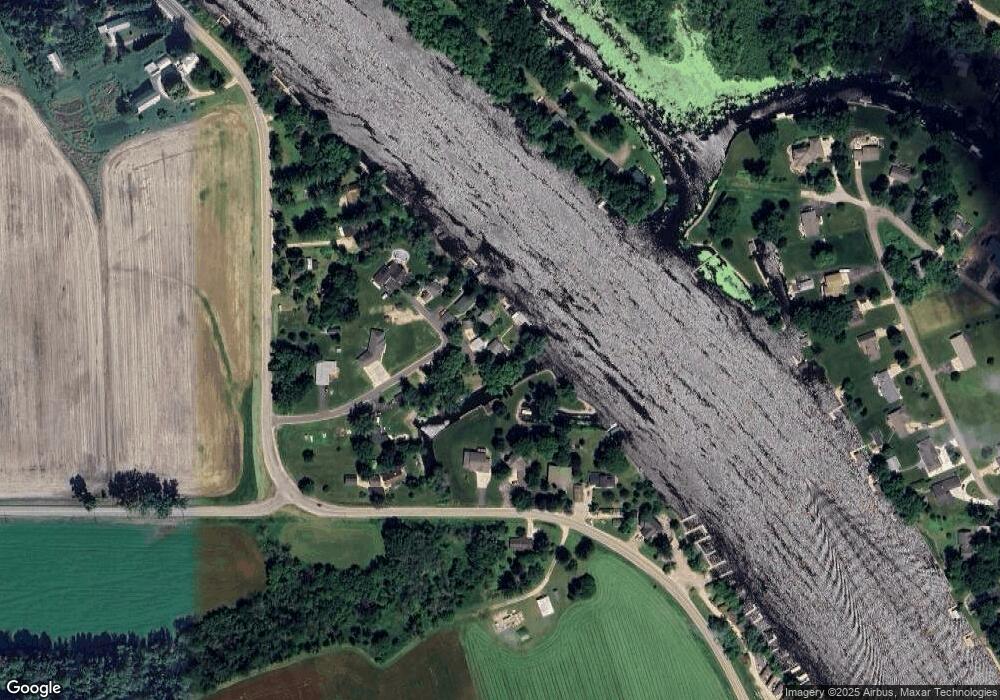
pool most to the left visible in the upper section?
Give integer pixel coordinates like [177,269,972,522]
[392,245,409,264]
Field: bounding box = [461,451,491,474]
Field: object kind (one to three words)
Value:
house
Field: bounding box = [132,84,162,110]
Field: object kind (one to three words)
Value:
barn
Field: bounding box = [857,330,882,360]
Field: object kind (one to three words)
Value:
house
